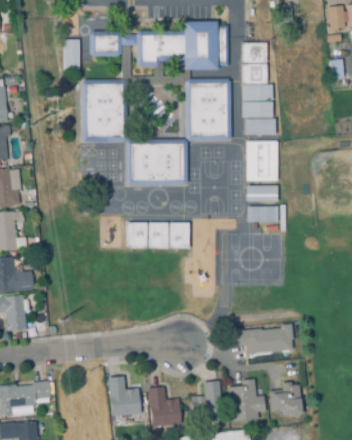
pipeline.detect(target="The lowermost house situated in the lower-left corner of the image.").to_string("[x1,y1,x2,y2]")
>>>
[0,420,38,440]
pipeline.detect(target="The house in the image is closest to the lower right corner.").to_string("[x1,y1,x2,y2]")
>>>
[270,382,304,413]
